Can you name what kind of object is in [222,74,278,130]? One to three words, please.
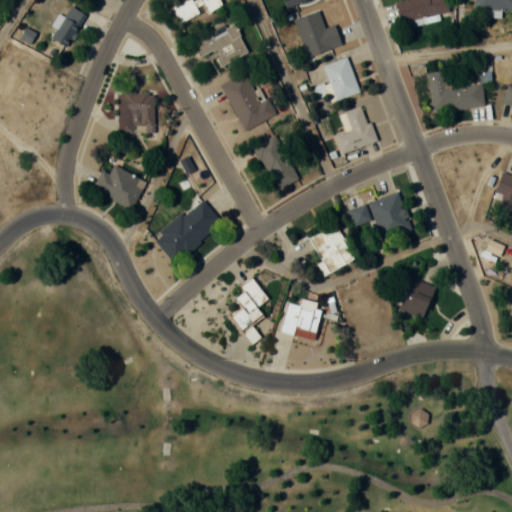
house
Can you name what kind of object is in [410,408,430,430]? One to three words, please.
gazebo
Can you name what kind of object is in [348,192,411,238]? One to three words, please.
house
